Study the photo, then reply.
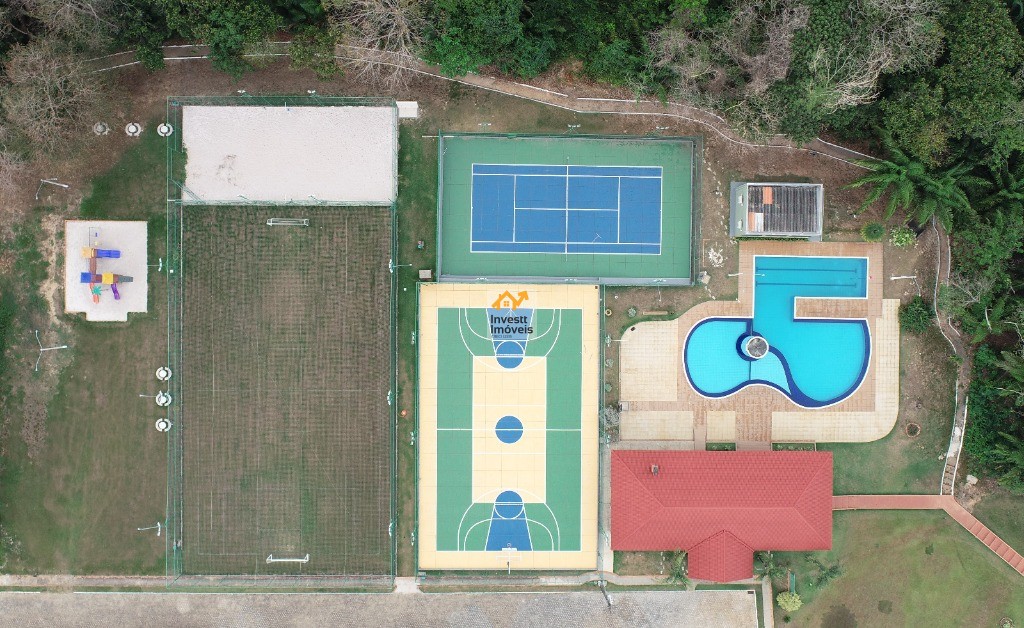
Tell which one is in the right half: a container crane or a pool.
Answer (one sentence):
It is a pool that can be seen in the right half.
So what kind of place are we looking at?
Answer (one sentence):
It's a sports ground.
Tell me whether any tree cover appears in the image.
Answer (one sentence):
Yes, tree cover can be seen from above here.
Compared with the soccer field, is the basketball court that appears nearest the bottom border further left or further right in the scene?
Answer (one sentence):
Compared with the soccer field, the basketball court that appears nearest the bottom border is located further to the right.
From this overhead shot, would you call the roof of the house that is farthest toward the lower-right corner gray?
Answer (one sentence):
No, the roof of the house that is farthest toward the lower-right corner is red.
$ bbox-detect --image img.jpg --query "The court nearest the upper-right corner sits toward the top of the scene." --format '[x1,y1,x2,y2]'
[439,134,695,286]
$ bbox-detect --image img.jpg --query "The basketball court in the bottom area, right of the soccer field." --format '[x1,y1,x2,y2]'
[417,284,601,572]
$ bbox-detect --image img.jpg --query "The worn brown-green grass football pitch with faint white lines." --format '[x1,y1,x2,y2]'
[181,204,398,577]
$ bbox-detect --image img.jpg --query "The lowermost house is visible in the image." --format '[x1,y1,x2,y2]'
[611,450,833,583]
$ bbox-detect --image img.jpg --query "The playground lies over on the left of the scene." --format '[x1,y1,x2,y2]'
[81,247,133,302]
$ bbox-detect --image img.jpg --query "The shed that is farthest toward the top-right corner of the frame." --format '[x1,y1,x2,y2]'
[737,183,823,238]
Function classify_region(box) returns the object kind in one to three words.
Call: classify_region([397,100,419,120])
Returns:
shed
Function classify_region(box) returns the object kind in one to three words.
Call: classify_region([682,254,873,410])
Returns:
swimming pool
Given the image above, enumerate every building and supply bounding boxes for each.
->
[737,183,823,238]
[611,450,833,583]
[397,100,419,120]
